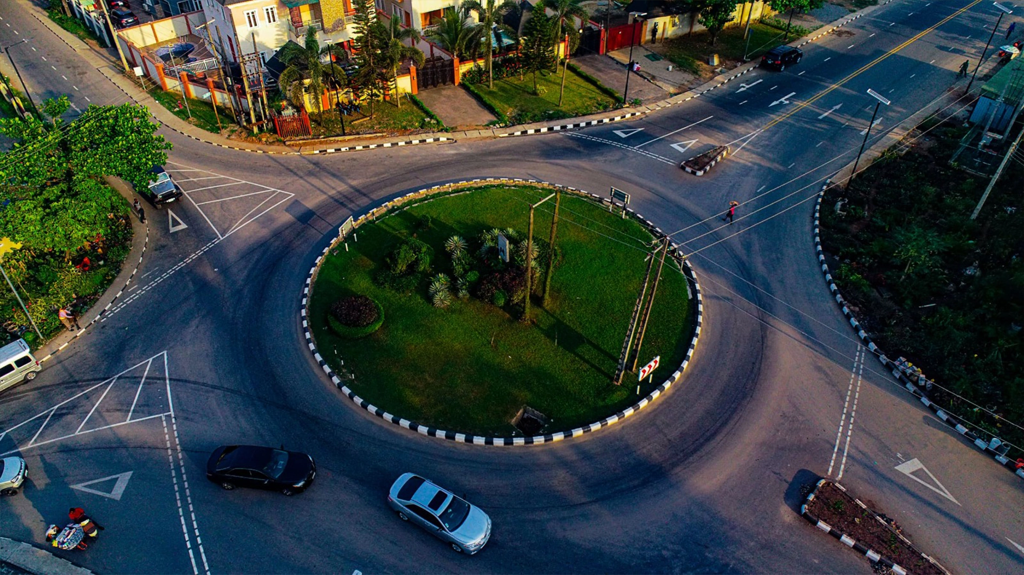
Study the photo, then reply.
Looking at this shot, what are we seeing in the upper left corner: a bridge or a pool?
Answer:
pool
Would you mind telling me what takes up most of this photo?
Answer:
paved ground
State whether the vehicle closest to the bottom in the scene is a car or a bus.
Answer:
car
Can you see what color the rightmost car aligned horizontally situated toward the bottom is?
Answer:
black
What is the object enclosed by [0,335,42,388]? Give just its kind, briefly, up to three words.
van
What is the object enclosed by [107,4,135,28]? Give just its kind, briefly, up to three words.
car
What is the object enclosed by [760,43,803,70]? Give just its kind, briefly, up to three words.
car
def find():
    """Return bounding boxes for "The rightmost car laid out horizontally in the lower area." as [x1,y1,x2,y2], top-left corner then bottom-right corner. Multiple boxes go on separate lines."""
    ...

[202,443,320,496]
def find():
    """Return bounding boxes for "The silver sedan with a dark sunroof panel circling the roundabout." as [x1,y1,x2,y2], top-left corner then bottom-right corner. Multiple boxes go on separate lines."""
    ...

[387,470,498,558]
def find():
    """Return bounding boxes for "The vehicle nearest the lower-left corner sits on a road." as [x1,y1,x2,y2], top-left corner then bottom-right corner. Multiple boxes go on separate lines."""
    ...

[0,443,35,494]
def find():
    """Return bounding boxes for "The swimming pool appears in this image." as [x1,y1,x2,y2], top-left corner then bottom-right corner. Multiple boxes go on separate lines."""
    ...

[143,34,220,82]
